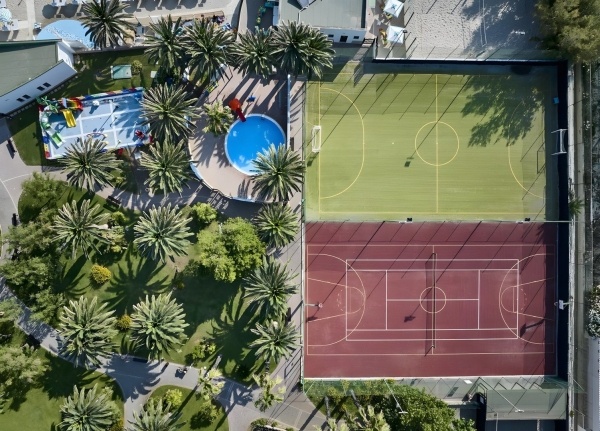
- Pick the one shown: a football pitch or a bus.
football pitch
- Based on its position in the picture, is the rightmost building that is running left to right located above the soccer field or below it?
below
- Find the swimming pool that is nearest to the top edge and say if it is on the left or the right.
left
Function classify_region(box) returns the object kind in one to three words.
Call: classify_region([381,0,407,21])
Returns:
umbrella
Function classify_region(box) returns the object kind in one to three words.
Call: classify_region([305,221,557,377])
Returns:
tennis court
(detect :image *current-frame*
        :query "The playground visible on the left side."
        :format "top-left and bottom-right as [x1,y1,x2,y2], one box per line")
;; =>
[36,84,153,163]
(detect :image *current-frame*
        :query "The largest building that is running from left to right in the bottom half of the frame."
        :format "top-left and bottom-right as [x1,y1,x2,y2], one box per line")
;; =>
[478,388,560,419]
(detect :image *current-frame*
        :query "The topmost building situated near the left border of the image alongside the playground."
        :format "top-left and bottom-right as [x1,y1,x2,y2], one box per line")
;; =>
[0,37,87,116]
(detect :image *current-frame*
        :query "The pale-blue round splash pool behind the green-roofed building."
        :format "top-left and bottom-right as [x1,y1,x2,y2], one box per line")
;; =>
[36,16,96,50]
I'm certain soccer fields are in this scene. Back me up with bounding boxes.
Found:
[305,63,557,221]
